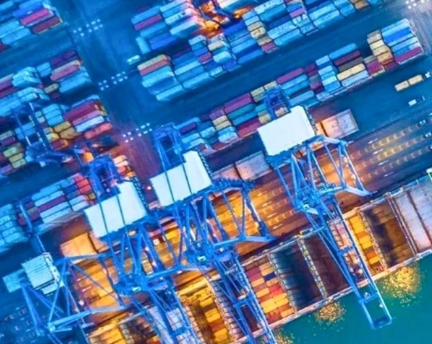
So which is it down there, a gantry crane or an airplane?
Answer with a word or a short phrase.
gantry crane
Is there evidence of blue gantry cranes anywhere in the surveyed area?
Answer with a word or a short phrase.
Yes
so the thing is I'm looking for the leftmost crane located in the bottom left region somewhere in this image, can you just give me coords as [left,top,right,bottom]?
[0,194,141,344]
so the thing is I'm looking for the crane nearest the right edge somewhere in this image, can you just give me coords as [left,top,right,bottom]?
[248,75,390,332]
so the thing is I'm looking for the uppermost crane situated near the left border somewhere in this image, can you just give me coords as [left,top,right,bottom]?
[11,100,79,166]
